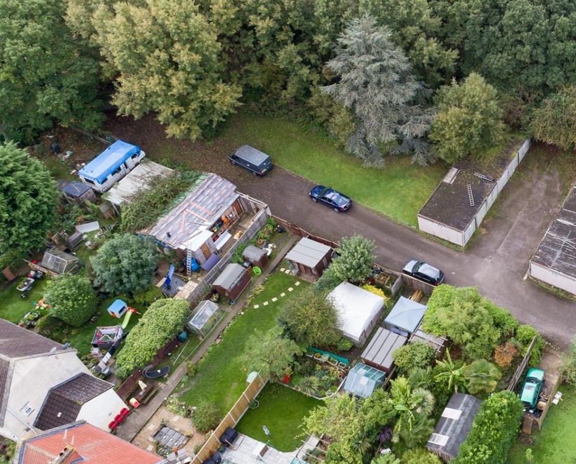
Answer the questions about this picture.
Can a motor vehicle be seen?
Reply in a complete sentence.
Yes, a motor vehicle can be made out from above.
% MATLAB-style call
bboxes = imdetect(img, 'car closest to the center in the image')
[306,187,354,214]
